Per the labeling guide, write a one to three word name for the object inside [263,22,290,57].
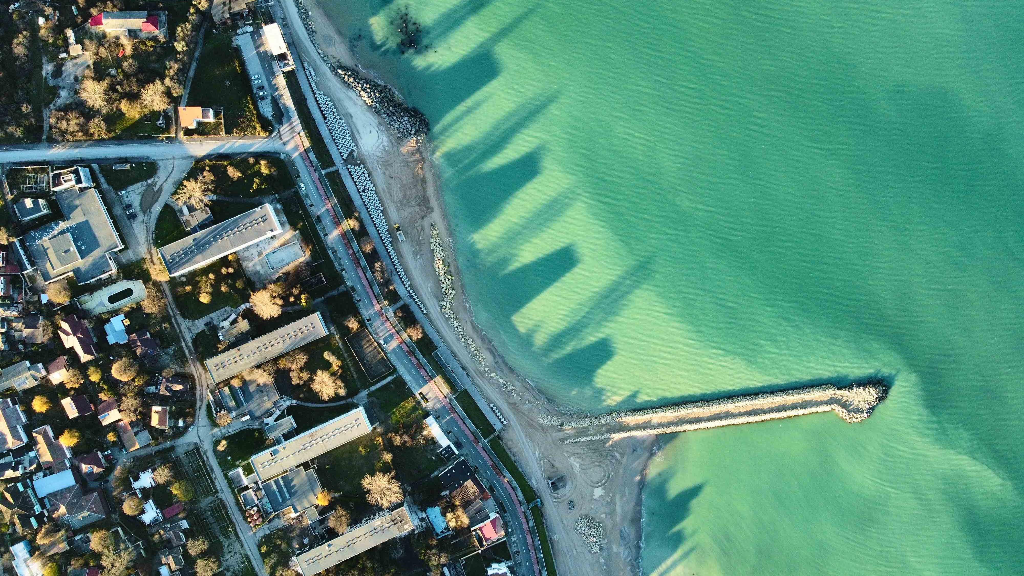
building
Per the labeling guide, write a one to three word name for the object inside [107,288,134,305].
swimming pool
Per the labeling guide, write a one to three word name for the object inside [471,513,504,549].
house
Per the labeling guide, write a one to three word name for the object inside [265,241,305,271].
swimming pool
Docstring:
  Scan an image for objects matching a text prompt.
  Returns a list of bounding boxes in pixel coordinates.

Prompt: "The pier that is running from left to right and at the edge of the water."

[557,384,886,439]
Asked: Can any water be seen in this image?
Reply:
Yes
